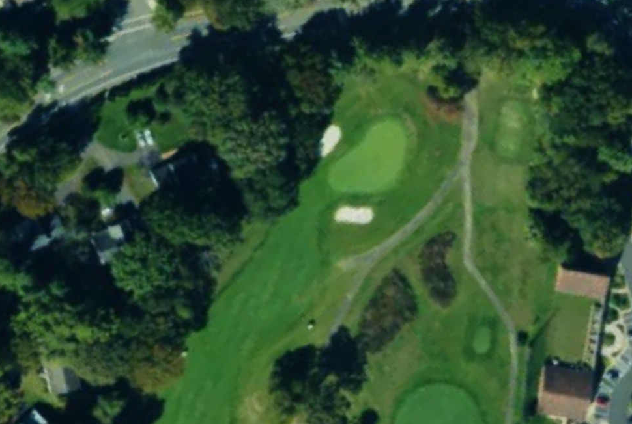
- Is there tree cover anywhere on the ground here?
Yes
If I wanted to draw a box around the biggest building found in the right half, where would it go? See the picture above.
[536,361,596,419]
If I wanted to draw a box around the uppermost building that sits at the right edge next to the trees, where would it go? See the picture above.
[556,265,611,301]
